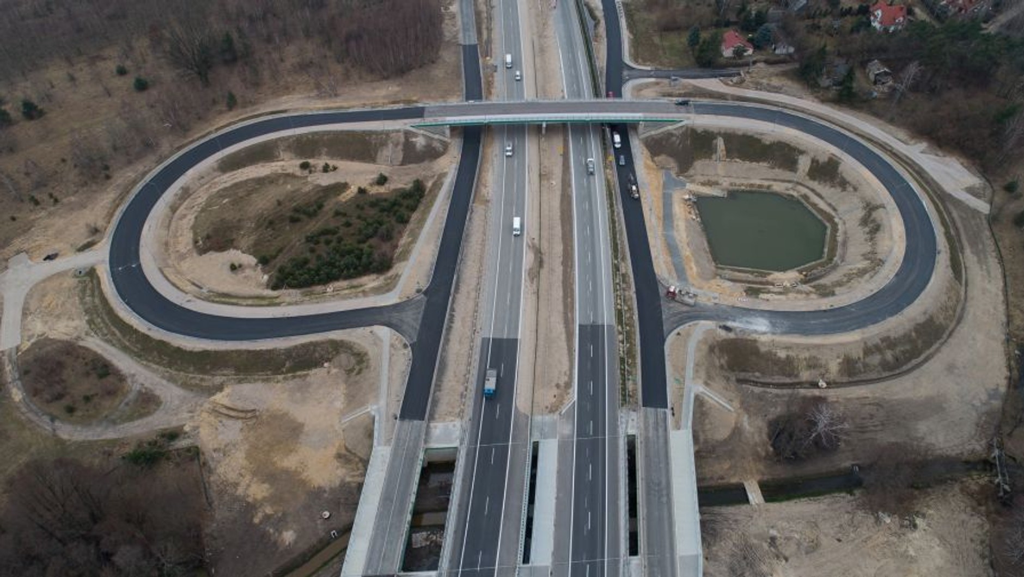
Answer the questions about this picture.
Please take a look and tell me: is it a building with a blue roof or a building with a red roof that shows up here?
building with a red roof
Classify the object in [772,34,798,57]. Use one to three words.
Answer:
house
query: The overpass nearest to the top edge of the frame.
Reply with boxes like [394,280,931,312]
[409,96,693,141]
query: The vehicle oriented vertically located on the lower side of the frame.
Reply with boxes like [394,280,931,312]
[482,365,496,402]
